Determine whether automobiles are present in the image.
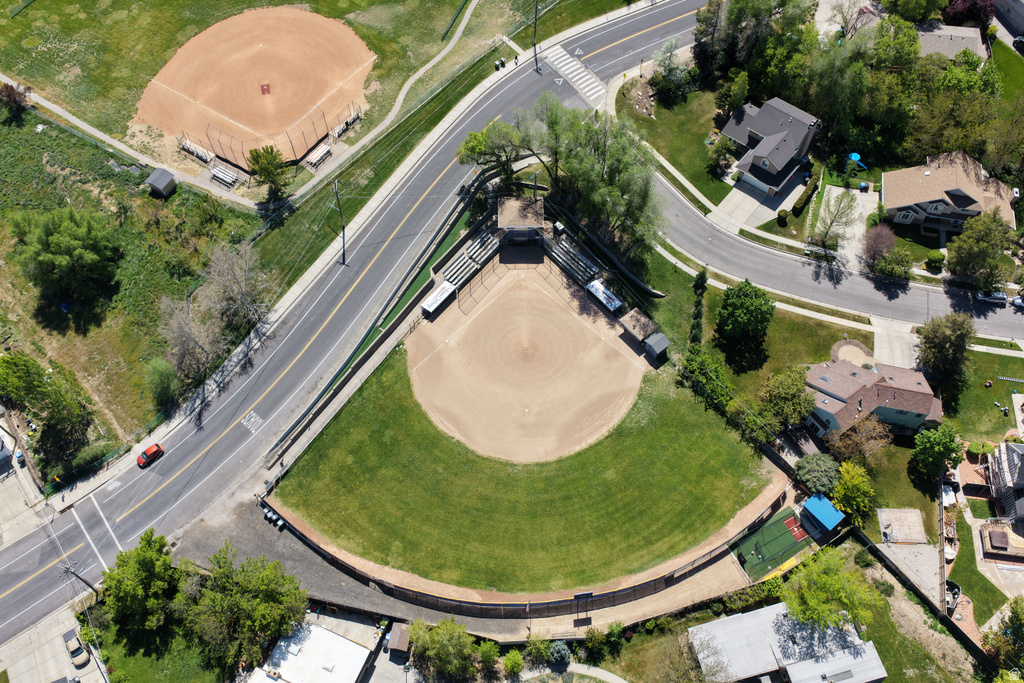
Yes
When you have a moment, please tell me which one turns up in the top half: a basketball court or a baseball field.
baseball field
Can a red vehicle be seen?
Yes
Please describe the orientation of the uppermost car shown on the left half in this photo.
diagonally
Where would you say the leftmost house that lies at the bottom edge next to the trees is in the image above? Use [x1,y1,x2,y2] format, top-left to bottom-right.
[235,622,371,683]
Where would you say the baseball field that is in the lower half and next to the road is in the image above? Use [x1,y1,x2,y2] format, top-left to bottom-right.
[262,238,794,603]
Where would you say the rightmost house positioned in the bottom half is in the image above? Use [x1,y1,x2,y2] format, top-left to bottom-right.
[980,437,1024,522]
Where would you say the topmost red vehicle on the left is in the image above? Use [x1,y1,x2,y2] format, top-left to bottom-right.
[134,443,165,469]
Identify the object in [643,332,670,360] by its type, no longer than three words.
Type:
shed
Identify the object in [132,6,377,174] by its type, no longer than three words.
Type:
baseball field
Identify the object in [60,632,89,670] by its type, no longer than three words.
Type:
car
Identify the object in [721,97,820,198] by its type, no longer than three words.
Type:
house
